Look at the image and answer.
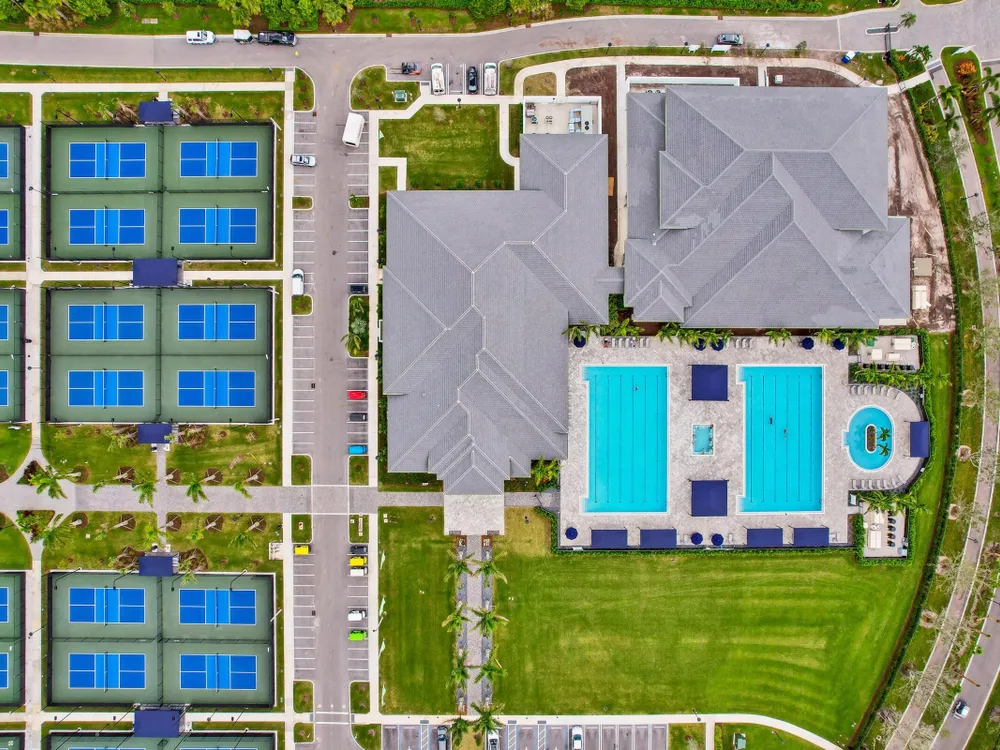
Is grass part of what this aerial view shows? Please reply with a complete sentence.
Yes, there is grass in the image.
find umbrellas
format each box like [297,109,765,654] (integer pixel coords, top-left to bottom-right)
[573,335,585,347]
[565,527,577,539]
[800,338,812,350]
[710,340,722,351]
[690,532,702,544]
[830,339,843,350]
[711,533,723,545]
[693,339,705,351]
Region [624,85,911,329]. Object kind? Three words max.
building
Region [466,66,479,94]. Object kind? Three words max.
vehicle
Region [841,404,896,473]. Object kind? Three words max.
swimming pool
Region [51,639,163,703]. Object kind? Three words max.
sports court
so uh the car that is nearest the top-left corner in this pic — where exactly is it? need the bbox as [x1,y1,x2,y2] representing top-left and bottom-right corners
[186,28,215,44]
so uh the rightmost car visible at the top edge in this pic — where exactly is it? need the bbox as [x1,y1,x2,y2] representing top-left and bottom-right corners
[717,32,744,47]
